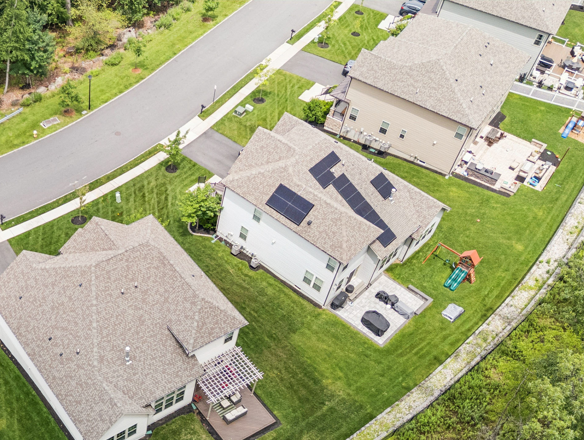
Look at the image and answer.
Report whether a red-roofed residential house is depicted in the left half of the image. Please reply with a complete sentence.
No, there is no red-roofed residential house in the left half of the image.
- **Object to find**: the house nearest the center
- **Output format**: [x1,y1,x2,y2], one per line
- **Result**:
[205,114,459,306]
